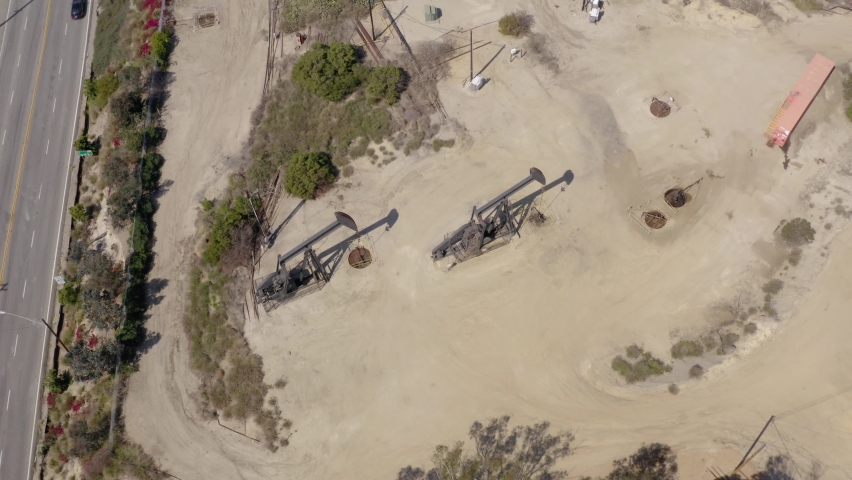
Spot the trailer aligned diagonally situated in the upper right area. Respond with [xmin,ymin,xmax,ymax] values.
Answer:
[758,54,838,154]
